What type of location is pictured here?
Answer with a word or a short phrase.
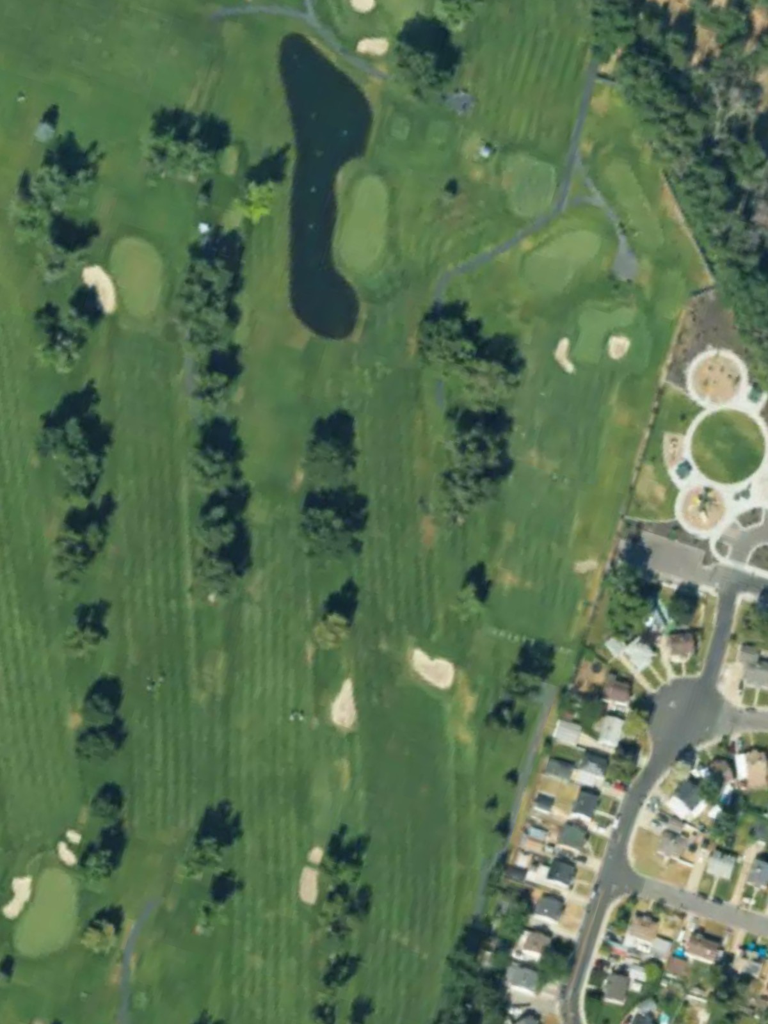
golf course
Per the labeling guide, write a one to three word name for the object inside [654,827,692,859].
house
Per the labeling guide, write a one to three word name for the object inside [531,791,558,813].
shed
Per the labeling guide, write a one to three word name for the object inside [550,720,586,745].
building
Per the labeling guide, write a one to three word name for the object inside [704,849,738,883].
house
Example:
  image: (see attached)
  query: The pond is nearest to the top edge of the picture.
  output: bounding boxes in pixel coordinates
[280,34,371,338]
